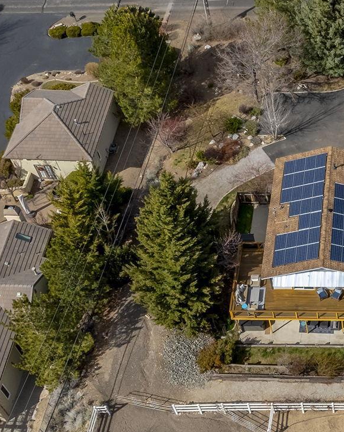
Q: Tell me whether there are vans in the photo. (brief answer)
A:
No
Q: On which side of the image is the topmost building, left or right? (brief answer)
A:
left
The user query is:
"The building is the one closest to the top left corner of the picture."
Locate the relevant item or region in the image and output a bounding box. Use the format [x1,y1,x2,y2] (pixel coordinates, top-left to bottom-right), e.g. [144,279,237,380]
[0,76,121,174]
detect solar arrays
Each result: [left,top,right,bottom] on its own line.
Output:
[331,183,344,265]
[268,153,323,270]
